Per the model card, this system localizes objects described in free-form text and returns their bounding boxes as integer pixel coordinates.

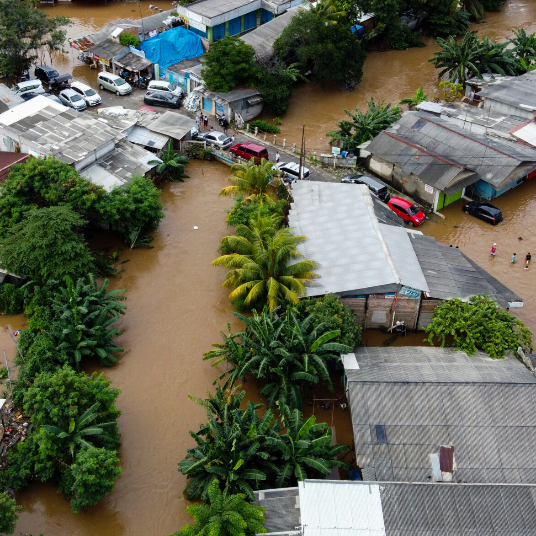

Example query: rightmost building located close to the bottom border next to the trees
[299,347,536,536]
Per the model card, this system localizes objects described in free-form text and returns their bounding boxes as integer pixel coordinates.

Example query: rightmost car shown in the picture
[463,199,506,223]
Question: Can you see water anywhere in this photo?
Yes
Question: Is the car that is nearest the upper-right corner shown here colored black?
Yes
